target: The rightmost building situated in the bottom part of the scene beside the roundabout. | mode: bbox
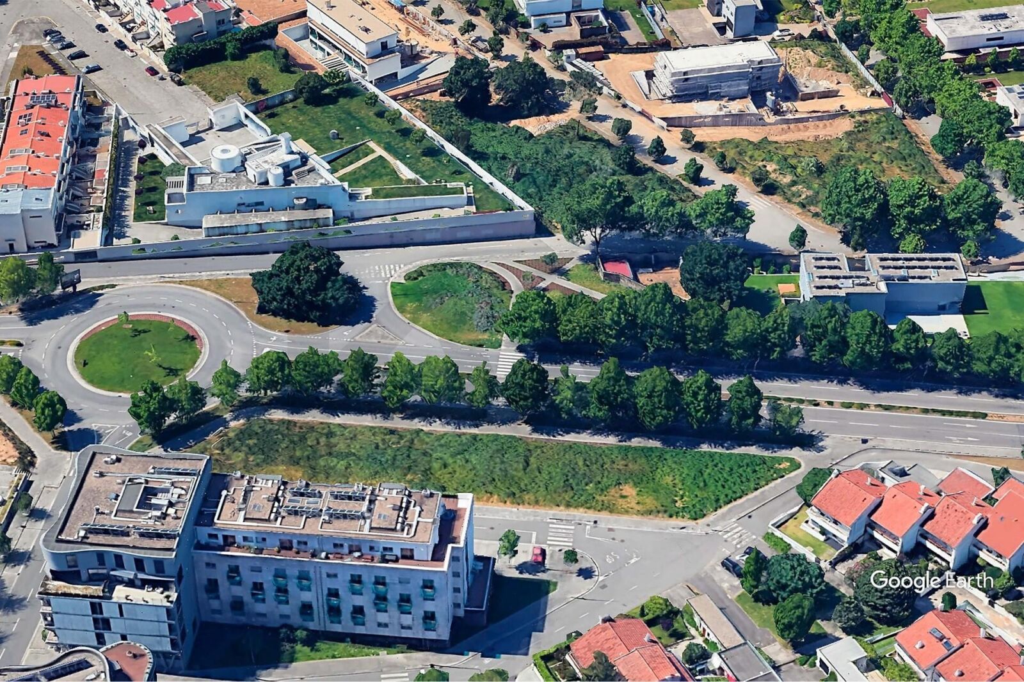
[192,464,474,644]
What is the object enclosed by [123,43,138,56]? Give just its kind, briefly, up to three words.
vehicle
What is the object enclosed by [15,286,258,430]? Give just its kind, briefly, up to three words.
roundabout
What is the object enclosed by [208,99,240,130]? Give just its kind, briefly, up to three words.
building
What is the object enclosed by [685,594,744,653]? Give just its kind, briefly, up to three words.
house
